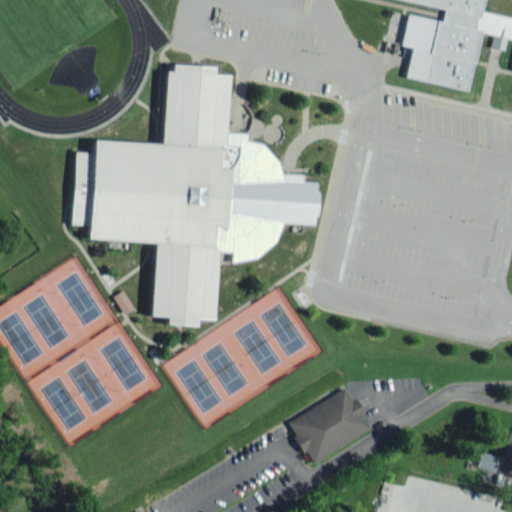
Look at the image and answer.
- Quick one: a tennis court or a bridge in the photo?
tennis court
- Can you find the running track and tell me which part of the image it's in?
top left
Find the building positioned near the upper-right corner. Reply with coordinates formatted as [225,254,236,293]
[400,0,512,92]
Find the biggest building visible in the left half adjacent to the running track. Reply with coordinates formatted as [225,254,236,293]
[72,64,322,328]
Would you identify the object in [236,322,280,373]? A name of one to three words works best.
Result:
tennis court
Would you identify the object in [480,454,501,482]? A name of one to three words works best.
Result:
house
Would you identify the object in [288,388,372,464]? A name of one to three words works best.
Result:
building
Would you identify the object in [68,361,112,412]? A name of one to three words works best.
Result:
tennis court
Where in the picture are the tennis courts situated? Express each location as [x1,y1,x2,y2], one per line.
[24,296,68,347]
[68,361,112,412]
[202,346,246,396]
[236,322,280,373]
[42,378,86,430]
[0,313,42,364]
[102,338,146,390]
[178,360,222,412]
[58,274,102,325]
[262,304,306,356]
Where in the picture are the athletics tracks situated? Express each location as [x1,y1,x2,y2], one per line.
[0,0,168,134]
